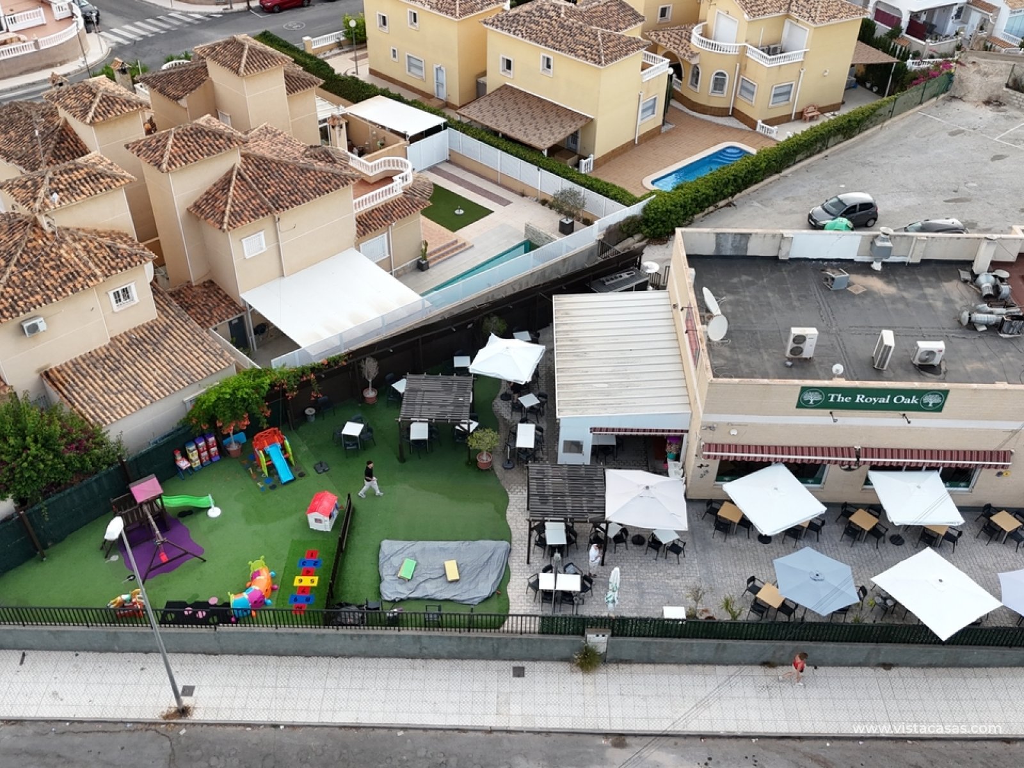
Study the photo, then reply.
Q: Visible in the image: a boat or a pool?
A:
pool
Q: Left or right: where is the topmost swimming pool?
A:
right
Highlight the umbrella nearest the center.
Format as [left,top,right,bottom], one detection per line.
[469,333,545,401]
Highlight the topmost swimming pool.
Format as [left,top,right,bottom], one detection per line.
[644,139,754,195]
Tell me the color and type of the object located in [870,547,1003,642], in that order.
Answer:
white umbrella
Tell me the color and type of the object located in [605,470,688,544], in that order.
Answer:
white umbrella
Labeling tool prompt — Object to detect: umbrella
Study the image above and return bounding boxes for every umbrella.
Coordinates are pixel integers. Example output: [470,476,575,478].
[469,333,545,401]
[870,547,1003,642]
[773,547,858,623]
[722,464,827,546]
[868,471,964,547]
[601,567,621,619]
[605,470,688,544]
[997,555,1024,626]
